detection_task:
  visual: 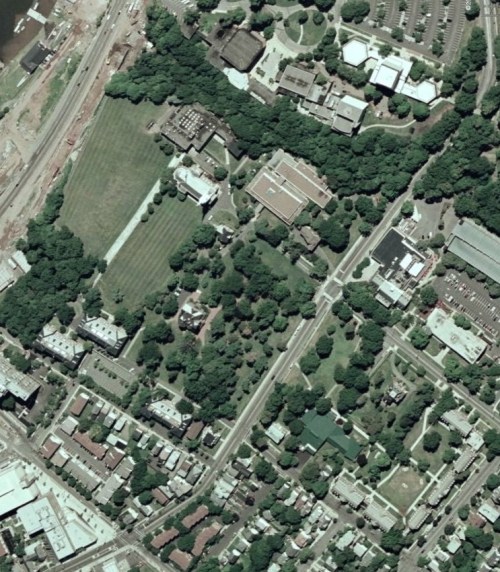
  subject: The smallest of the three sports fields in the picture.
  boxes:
[384,466,426,512]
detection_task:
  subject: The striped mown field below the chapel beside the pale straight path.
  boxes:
[98,182,204,315]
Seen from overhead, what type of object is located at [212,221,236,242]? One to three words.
house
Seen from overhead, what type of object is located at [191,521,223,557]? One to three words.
building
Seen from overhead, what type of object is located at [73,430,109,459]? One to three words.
house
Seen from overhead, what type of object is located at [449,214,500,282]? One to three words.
shed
